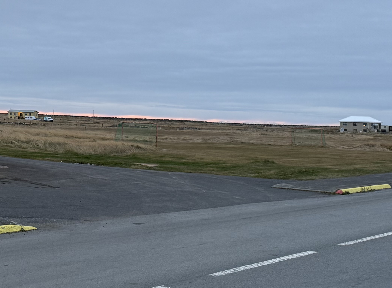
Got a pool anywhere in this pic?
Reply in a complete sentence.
No, there appears to be no pool in this shot.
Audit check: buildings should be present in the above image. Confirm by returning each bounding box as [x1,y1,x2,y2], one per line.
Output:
[337,116,383,132]
[7,106,39,120]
